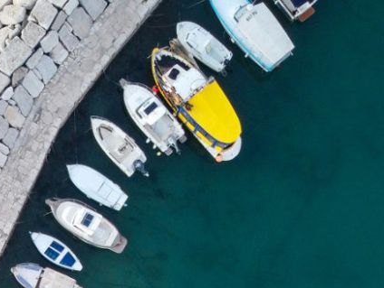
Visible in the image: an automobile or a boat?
boat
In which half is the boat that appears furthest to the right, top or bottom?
top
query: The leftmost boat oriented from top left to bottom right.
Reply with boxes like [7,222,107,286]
[28,231,82,272]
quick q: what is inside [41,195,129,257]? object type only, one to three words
boat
